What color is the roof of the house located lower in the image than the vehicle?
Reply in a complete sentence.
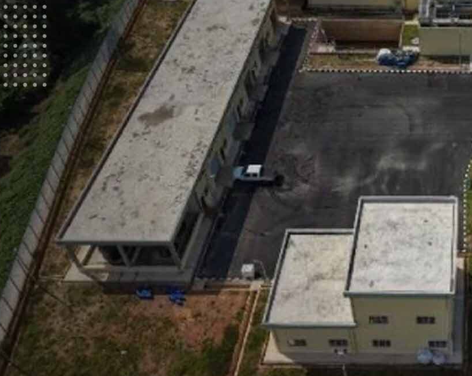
The roof over the house located lower in the image than the vehicle appears white.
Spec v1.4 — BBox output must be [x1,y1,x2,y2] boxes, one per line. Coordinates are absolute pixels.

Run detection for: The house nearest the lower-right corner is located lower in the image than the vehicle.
[264,197,464,366]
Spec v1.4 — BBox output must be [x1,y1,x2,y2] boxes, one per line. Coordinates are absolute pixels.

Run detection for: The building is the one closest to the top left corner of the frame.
[57,0,292,286]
